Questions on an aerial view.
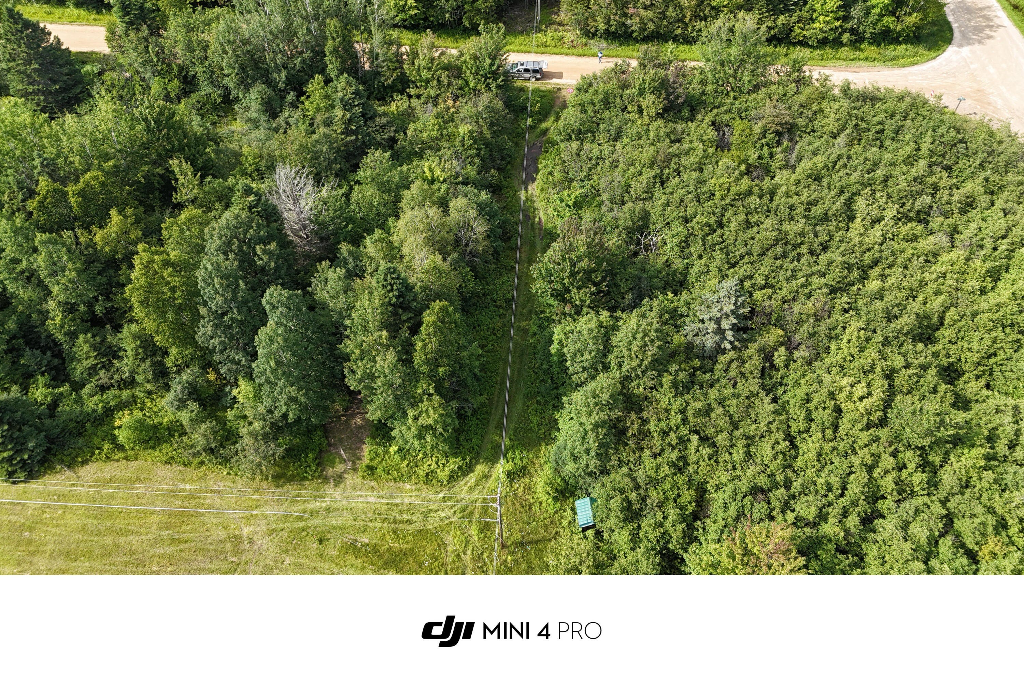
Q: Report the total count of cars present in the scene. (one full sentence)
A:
Only 1 car is visible.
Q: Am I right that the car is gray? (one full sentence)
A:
Yes, the car is indeed gray.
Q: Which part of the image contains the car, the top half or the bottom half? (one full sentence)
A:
The car is in the top half of the image.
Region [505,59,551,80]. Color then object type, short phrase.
gray car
